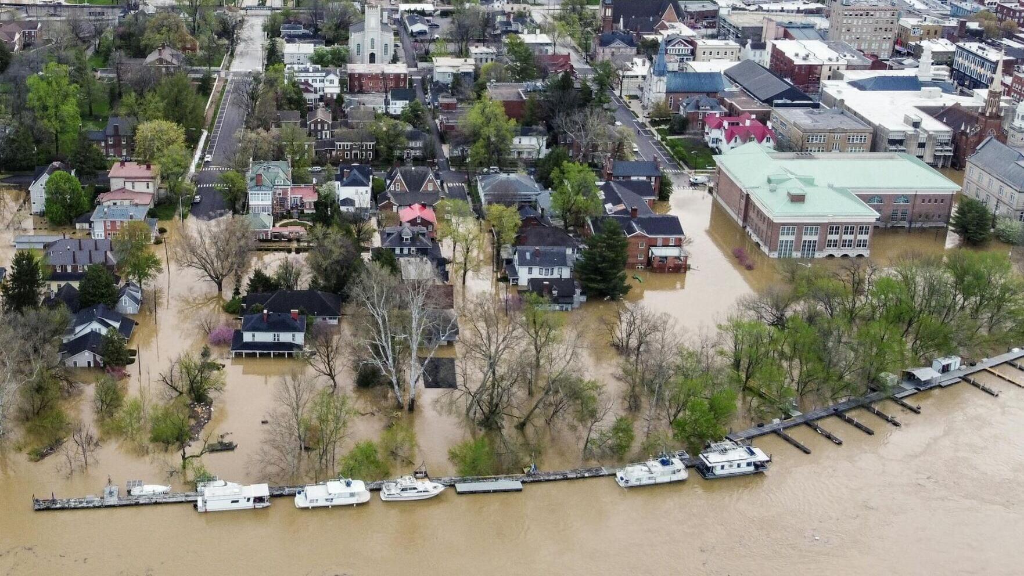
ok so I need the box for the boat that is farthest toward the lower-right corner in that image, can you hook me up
[693,439,773,478]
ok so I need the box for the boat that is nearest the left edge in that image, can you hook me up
[128,476,170,494]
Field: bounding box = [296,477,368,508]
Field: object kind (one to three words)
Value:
boat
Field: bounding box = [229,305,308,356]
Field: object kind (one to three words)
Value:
house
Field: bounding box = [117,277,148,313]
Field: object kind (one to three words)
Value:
house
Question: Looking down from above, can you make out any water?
Yes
